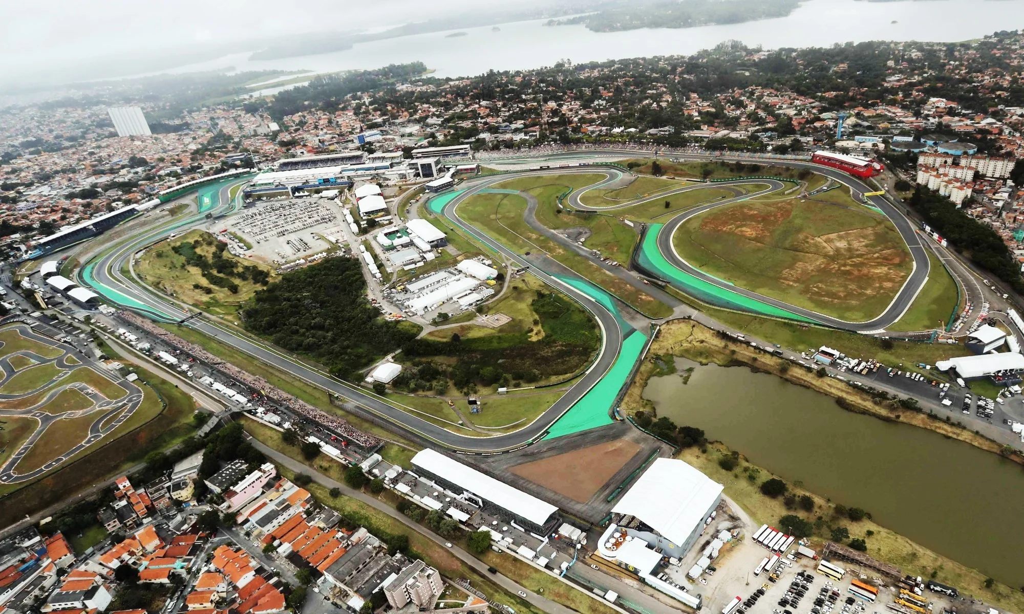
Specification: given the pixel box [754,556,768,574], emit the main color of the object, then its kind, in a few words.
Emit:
white vehicle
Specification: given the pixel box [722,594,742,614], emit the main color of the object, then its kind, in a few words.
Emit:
white bus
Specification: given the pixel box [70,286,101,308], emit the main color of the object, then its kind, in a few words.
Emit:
white tent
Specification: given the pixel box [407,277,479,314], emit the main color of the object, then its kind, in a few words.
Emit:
white tent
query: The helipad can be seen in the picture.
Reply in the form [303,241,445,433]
[474,308,511,327]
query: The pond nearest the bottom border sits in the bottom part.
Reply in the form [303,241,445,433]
[641,356,1024,595]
